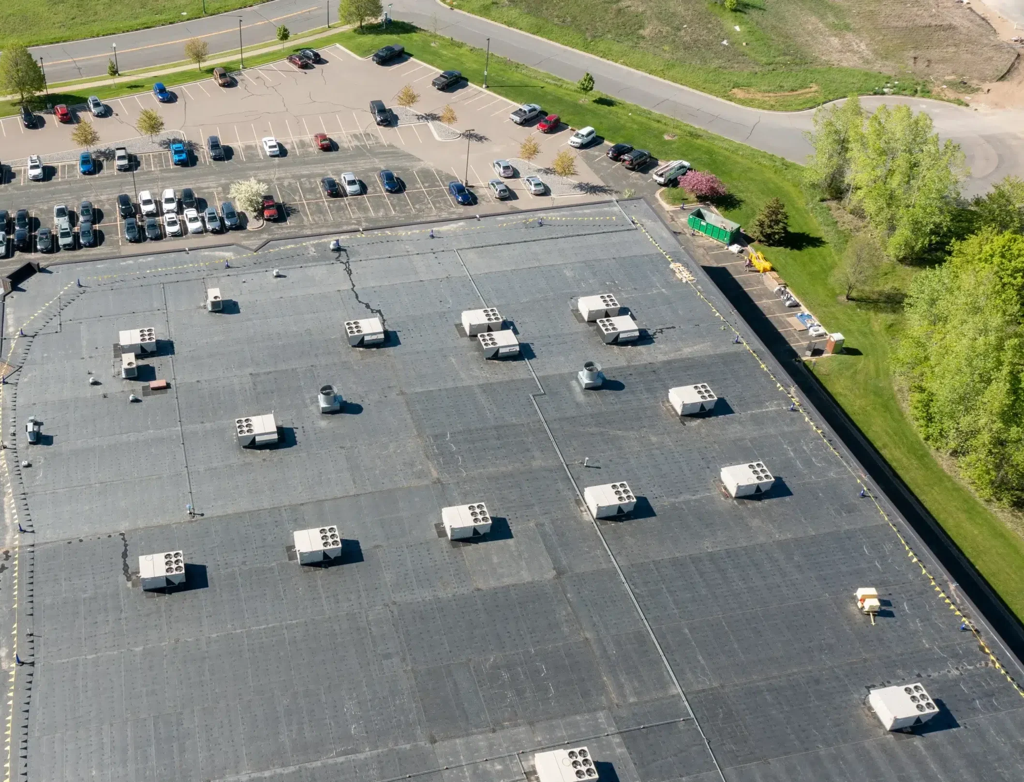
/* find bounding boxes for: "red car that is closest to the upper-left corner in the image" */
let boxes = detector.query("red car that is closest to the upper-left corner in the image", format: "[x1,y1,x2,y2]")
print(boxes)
[54,105,71,123]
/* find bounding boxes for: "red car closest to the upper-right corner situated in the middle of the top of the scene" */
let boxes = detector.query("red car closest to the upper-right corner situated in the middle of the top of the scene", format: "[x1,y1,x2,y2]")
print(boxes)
[535,112,563,133]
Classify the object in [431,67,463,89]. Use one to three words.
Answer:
truck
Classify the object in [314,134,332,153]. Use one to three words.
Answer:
car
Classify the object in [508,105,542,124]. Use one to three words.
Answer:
vehicle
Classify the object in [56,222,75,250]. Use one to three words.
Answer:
car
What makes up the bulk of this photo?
buildings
